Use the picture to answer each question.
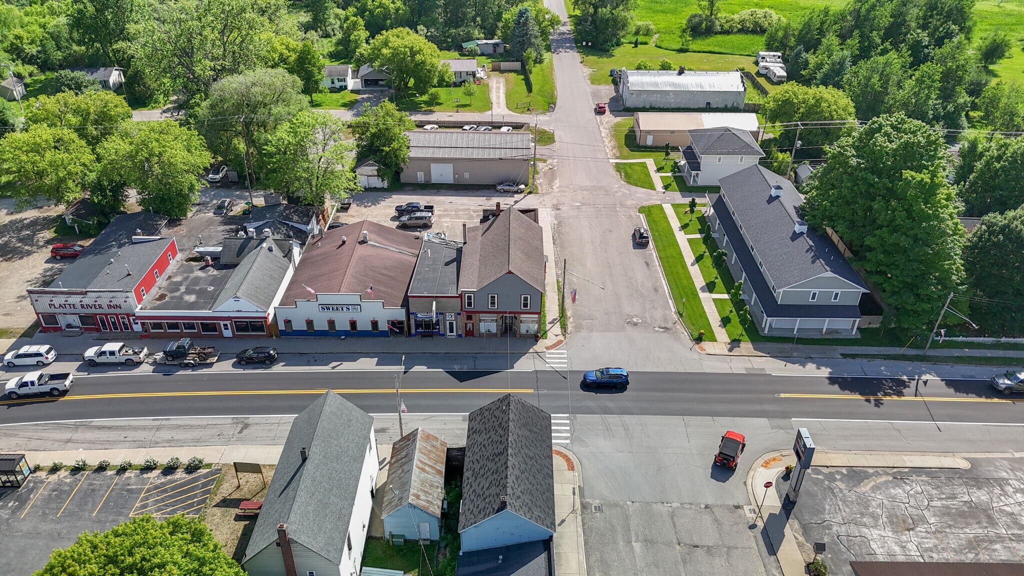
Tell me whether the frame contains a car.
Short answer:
Yes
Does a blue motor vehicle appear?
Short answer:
Yes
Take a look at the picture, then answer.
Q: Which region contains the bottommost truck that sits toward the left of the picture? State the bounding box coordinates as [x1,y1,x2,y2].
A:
[0,369,74,399]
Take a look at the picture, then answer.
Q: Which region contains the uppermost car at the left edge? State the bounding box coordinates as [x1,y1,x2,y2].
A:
[49,240,90,259]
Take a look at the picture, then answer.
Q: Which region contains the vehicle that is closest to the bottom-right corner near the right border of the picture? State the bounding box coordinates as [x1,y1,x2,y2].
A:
[989,367,1024,391]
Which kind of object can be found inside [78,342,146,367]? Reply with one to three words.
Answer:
truck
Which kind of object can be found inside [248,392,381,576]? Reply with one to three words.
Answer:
building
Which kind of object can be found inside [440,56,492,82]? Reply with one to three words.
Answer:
house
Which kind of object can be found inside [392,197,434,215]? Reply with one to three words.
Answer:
vehicle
